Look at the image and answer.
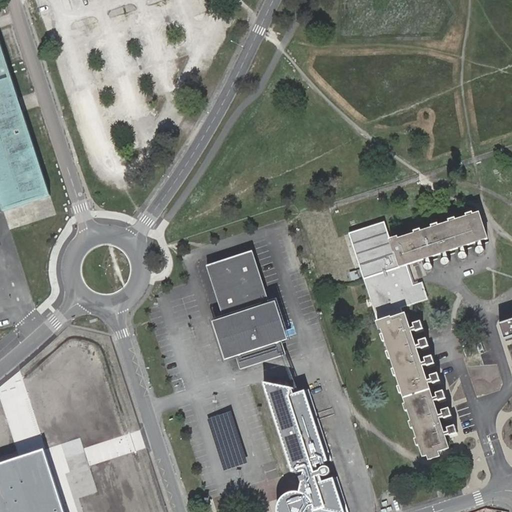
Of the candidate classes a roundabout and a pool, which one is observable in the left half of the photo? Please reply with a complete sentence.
Visible in the left half of the photo is a roundabout.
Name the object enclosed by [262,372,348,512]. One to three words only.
building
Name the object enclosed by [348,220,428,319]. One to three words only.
building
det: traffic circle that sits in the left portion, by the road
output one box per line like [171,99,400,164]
[50,220,152,334]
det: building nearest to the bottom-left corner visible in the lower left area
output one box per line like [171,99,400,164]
[0,448,65,512]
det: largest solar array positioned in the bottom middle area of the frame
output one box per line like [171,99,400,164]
[208,411,247,470]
